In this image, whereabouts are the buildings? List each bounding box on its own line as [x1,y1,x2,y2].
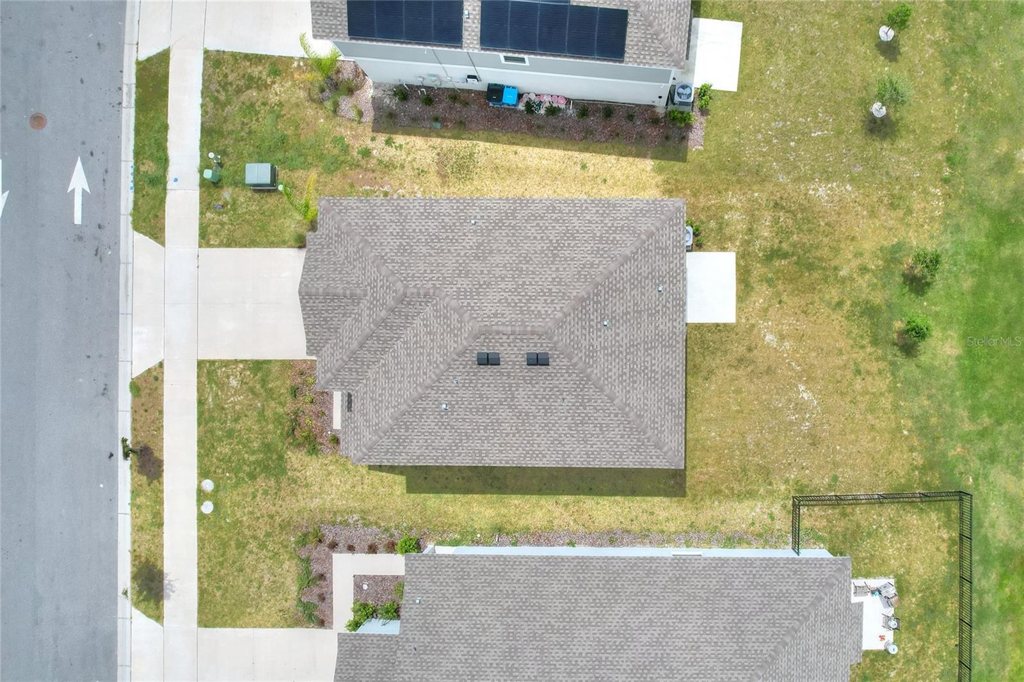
[311,0,691,106]
[333,545,861,682]
[298,198,685,467]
